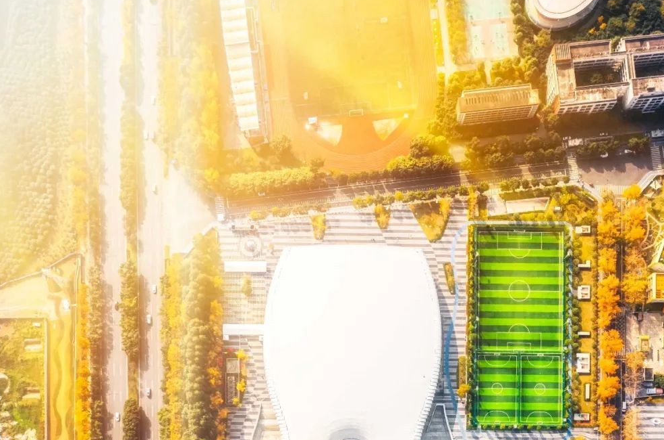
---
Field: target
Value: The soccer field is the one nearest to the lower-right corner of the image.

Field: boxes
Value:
[521,354,566,426]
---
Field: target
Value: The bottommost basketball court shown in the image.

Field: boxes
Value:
[466,19,518,63]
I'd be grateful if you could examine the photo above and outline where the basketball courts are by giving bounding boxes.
[464,0,512,24]
[466,19,518,63]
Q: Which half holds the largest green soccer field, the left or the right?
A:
right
